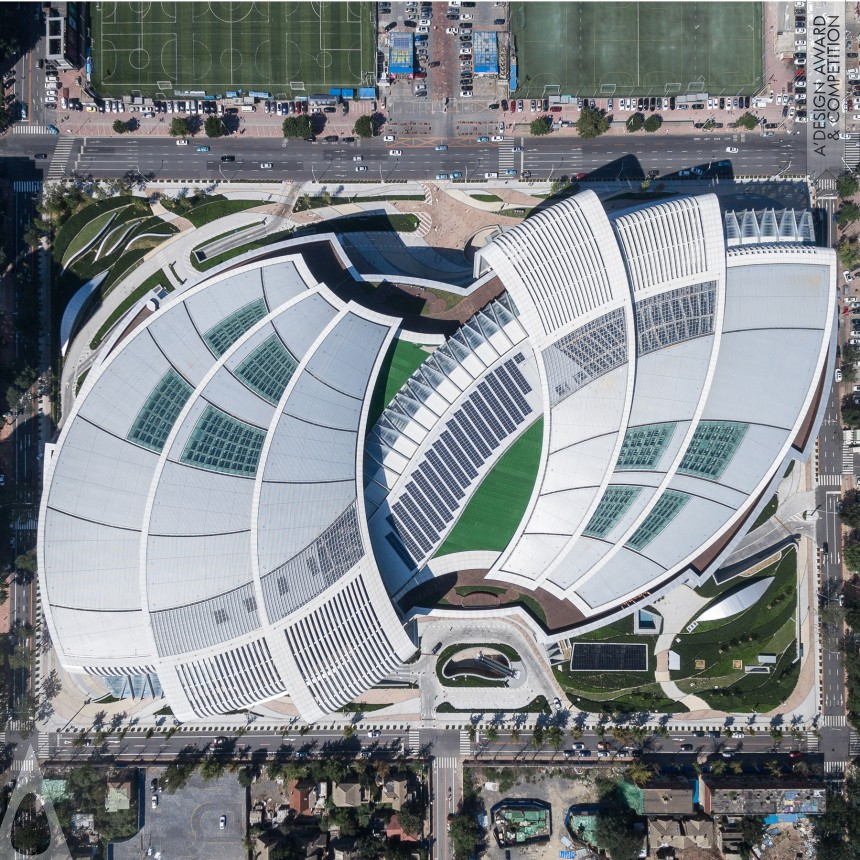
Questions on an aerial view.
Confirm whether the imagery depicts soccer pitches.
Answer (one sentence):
Yes, the image includes a soccer pitch.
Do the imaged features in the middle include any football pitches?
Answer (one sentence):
No, there is no football pitch in the middle.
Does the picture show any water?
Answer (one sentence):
No, the picture contains no water.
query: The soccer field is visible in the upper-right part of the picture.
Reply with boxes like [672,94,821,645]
[509,0,762,96]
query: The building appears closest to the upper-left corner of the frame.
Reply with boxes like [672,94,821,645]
[40,0,79,71]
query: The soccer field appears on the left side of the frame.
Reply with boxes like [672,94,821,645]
[89,0,376,96]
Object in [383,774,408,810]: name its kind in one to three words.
house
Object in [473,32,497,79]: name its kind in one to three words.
building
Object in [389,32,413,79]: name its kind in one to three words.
building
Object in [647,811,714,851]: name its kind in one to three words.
house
